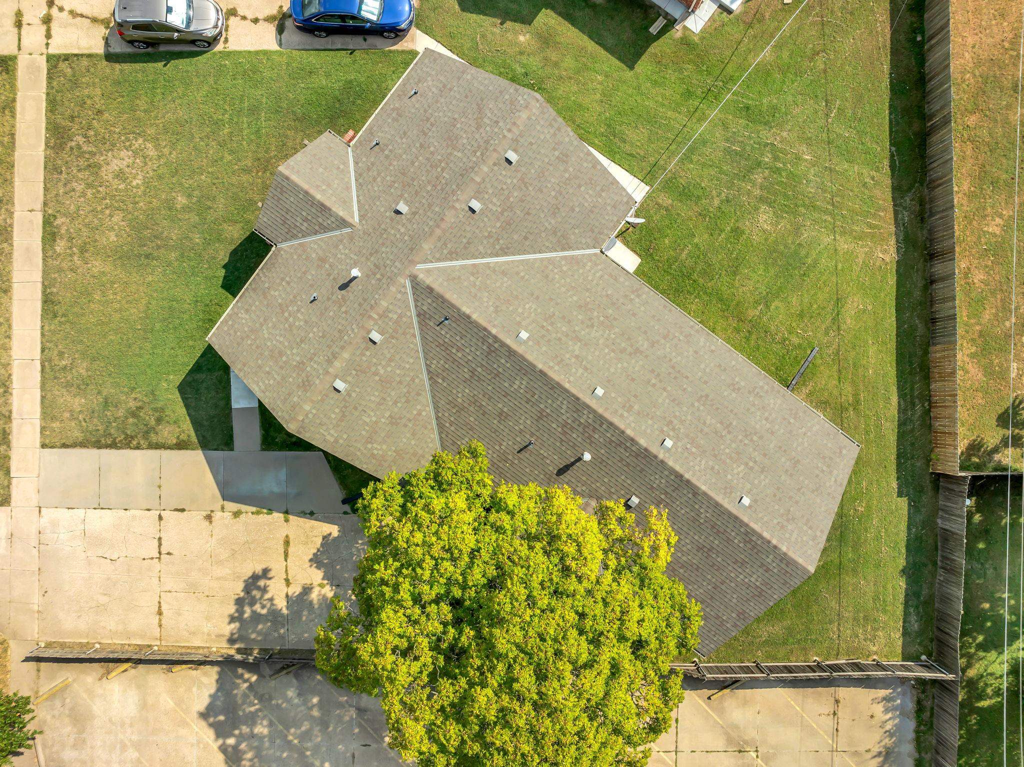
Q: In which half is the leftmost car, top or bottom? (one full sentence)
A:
The leftmost car sits in the top half of the picture.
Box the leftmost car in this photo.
[112,0,228,48]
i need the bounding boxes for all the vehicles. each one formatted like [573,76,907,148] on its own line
[112,0,228,48]
[291,0,416,39]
